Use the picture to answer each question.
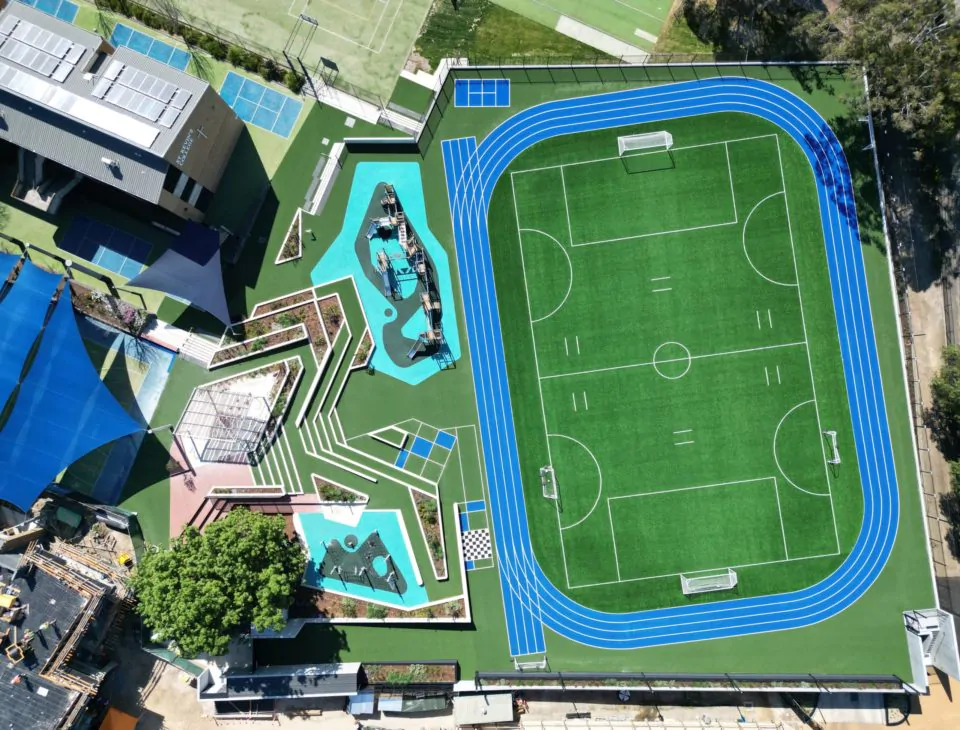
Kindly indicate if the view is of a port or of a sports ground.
sports ground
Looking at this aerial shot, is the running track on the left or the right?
right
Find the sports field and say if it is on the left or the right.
right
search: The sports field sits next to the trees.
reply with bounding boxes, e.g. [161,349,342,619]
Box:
[487,112,862,615]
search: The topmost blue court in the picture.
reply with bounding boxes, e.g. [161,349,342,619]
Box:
[38,0,80,24]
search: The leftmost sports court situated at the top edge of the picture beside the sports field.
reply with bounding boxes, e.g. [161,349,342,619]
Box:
[133,0,434,109]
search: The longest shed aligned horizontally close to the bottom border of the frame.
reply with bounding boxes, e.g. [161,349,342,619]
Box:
[197,660,361,701]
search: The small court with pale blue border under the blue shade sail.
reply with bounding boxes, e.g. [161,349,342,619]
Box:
[0,302,179,506]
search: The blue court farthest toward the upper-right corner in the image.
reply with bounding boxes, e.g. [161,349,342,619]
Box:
[454,79,510,108]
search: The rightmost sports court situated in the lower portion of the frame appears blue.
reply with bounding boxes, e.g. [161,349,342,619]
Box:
[395,418,487,531]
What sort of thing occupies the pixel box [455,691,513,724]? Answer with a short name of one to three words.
building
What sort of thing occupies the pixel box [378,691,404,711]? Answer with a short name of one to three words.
shed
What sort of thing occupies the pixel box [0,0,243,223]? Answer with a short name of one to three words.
building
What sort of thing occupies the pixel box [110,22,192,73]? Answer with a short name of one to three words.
sports court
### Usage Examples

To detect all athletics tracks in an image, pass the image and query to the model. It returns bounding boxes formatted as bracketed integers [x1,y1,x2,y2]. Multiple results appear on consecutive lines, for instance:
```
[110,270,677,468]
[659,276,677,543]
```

[439,76,897,656]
